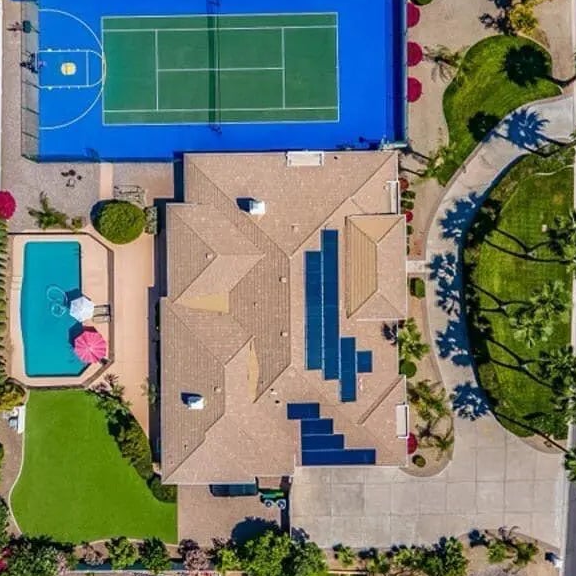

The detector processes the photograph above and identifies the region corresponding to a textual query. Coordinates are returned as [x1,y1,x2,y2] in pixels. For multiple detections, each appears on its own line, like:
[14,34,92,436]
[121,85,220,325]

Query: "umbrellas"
[75,330,107,362]
[70,297,94,322]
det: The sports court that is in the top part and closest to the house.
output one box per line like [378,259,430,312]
[39,0,402,161]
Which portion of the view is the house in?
center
